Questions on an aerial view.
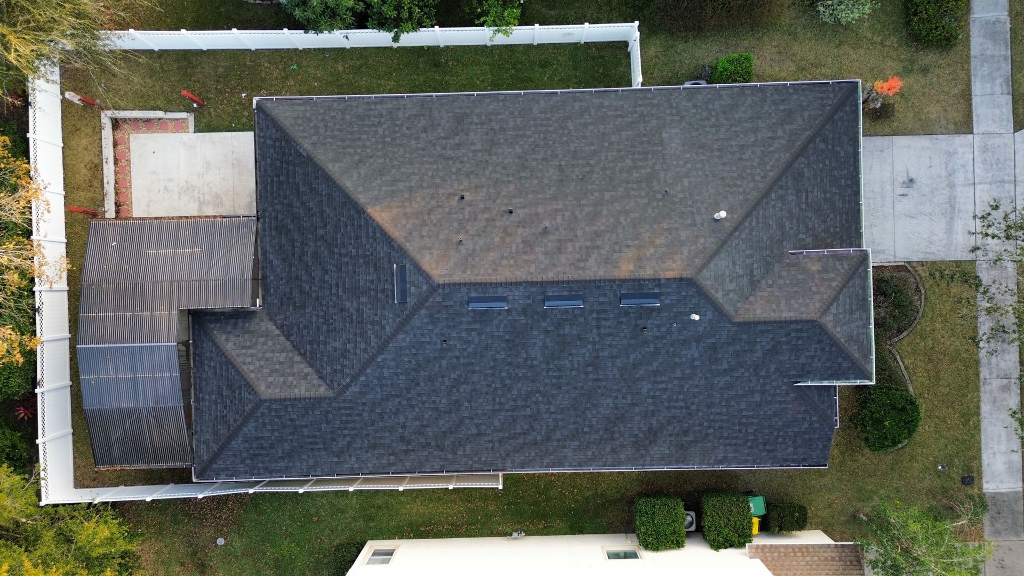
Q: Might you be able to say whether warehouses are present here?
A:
No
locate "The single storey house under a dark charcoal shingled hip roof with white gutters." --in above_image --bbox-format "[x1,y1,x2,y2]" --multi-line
[189,79,876,482]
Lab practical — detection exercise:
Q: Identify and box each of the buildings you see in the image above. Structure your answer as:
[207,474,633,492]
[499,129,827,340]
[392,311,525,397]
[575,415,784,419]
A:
[349,529,862,576]
[189,79,876,482]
